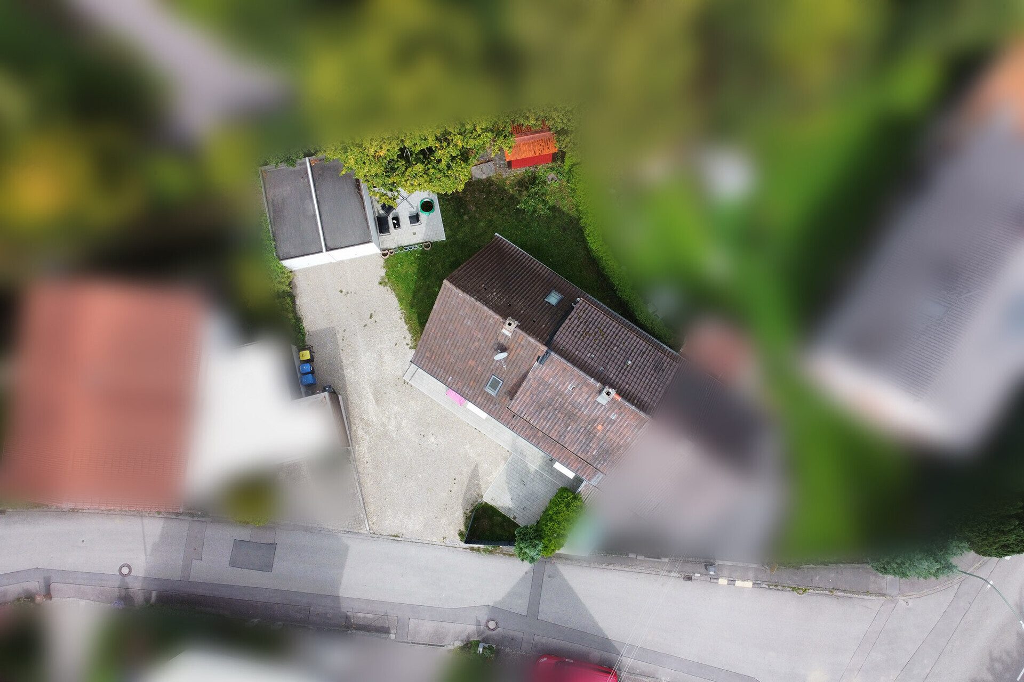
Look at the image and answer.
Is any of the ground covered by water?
No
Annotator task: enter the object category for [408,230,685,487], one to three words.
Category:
house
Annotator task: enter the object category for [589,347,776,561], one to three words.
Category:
house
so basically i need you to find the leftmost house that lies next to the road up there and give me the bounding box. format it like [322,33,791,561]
[5,274,228,513]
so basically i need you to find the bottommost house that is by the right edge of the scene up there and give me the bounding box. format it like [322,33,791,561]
[795,108,1024,458]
